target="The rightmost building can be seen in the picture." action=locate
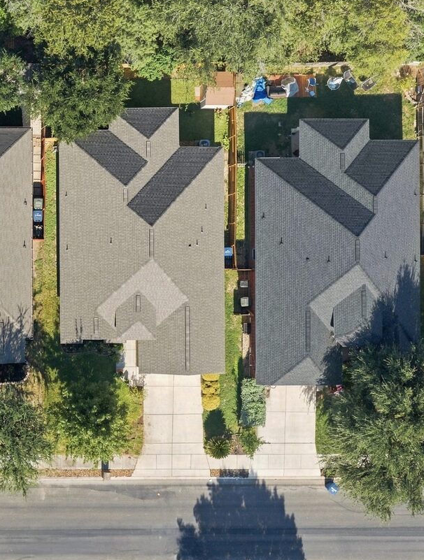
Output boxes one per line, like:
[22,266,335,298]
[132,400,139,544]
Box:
[248,117,420,387]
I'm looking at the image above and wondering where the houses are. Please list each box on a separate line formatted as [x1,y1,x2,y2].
[59,107,226,376]
[248,117,420,387]
[0,125,33,364]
